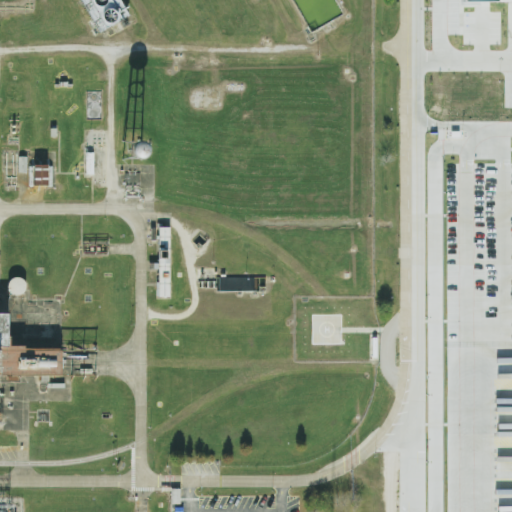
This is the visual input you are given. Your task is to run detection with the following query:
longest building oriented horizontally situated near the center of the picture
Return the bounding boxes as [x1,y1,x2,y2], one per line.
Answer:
[218,277,259,292]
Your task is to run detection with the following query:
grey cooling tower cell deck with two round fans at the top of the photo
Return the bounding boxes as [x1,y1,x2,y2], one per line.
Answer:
[81,0,122,31]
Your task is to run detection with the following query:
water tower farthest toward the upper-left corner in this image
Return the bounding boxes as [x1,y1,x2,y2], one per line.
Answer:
[122,139,153,160]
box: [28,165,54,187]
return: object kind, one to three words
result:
building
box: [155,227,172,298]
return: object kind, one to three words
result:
building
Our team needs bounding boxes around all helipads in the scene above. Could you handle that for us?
[312,314,344,346]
